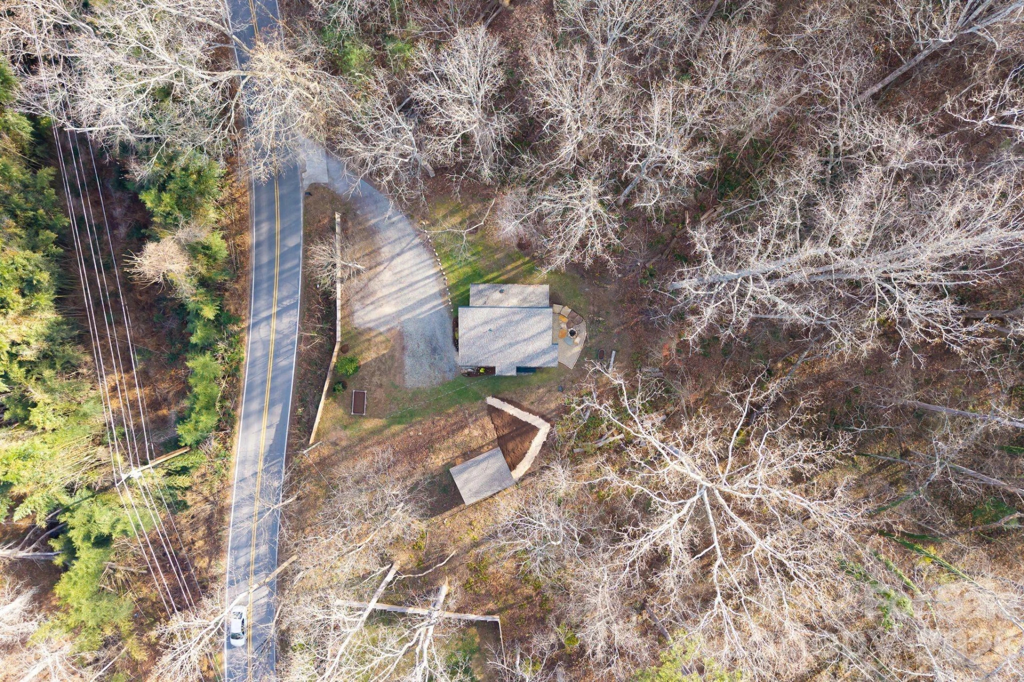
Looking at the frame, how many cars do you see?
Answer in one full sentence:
The photo contains exactly 1 car.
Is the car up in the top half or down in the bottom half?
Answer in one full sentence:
The car sits in the bottom half of the picture.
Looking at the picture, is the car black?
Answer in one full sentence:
No, the color of the car is white.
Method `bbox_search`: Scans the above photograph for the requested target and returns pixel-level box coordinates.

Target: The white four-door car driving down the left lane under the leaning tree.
[226,606,247,648]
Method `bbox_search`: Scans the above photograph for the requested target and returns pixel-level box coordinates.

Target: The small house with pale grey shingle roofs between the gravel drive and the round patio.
[457,283,559,375]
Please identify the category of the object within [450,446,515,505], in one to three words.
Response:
shed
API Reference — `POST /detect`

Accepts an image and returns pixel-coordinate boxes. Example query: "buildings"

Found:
[450,446,515,505]
[457,283,559,375]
